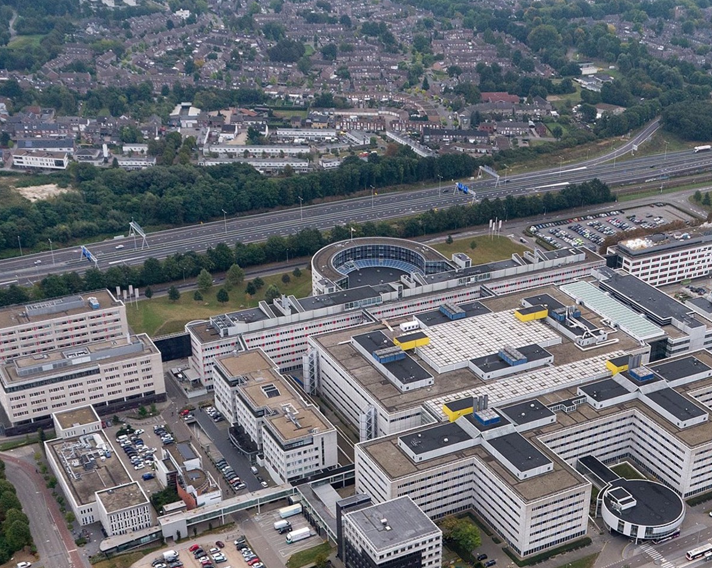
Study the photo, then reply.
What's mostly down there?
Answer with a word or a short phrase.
buildings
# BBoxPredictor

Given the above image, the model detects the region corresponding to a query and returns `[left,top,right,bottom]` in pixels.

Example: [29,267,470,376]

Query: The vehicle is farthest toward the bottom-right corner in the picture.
[685,540,712,559]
